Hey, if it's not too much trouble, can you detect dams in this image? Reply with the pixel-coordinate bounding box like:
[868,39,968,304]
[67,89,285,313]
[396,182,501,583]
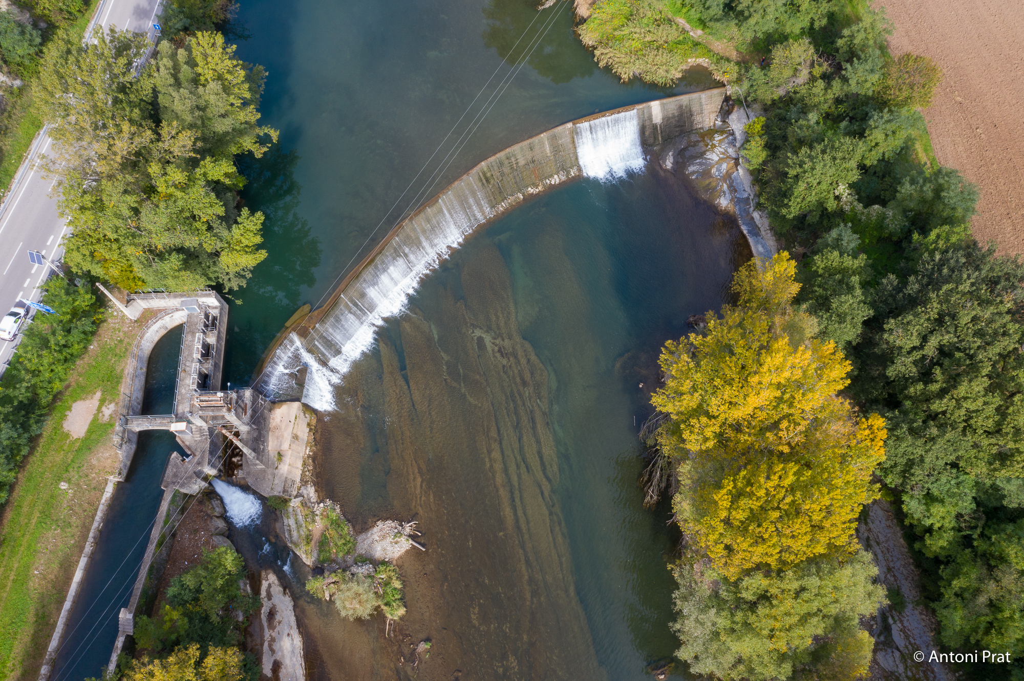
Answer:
[305,86,726,360]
